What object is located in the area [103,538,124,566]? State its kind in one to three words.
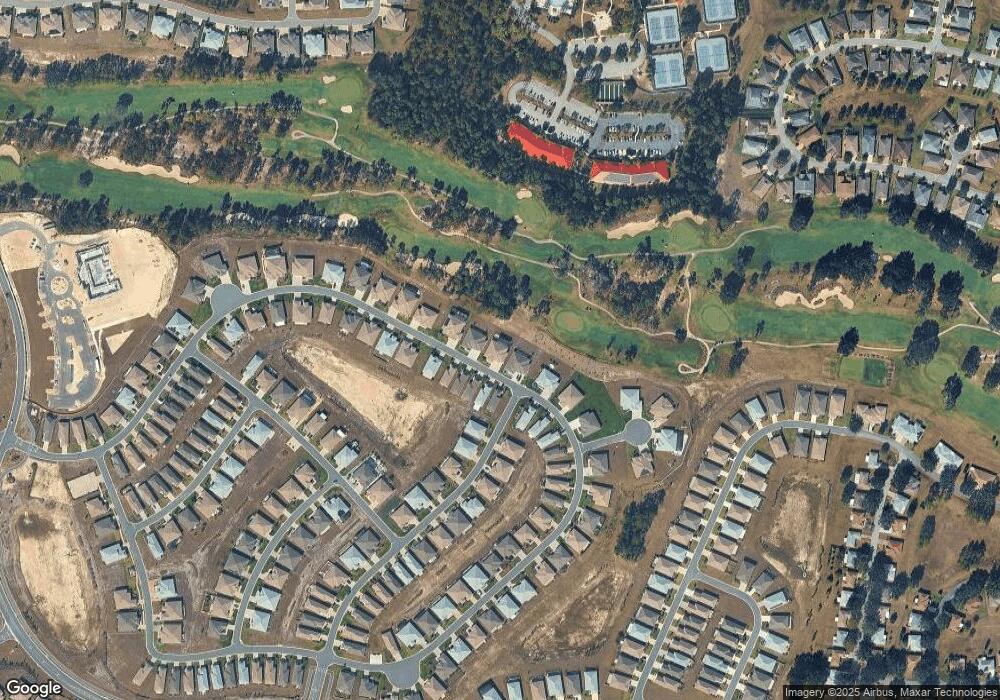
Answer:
house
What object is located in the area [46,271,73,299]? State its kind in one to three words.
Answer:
roundabout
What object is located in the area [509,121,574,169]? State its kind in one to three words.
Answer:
building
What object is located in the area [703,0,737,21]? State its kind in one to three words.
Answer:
tennis court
